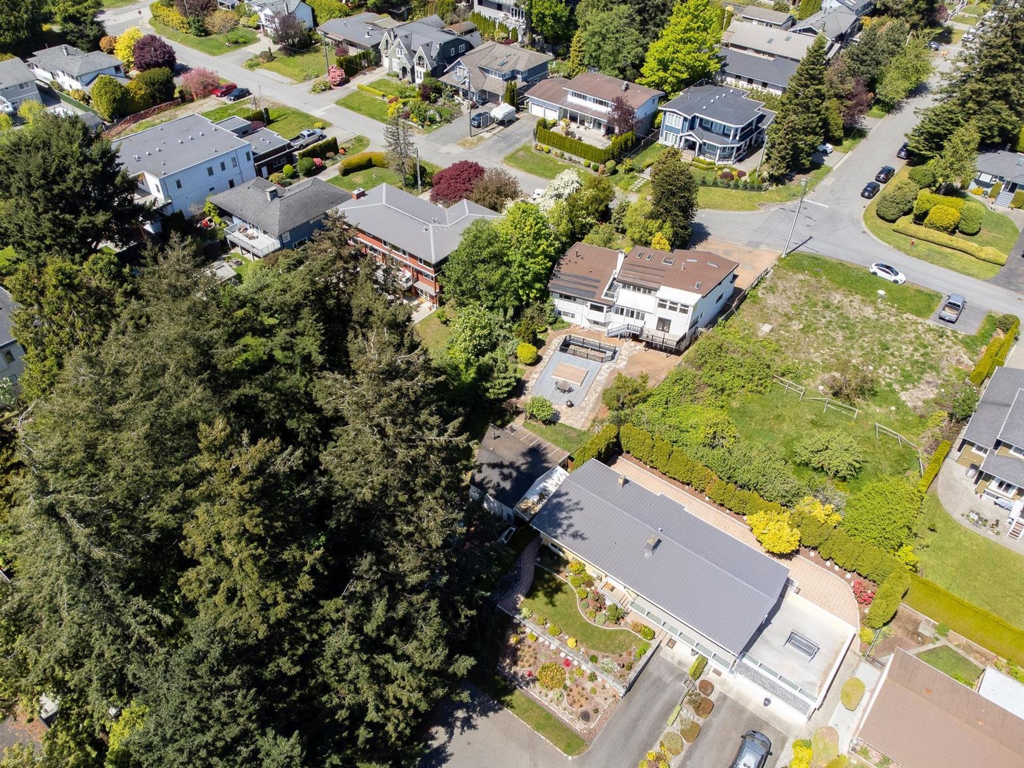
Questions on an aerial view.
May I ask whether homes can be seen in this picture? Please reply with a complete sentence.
Yes, a home can be made out from above.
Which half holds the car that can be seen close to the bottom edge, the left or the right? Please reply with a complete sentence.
The car that can be seen close to the bottom edge sits on the right side.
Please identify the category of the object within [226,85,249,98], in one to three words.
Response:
vehicle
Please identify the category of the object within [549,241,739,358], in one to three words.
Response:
house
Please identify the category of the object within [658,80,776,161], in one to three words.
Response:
house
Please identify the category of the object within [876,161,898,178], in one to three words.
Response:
car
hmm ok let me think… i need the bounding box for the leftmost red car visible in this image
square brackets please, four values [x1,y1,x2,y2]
[211,80,236,93]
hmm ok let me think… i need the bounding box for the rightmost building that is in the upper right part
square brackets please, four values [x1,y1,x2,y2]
[970,147,1024,209]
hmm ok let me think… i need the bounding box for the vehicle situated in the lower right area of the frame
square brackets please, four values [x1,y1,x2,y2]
[728,727,770,768]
